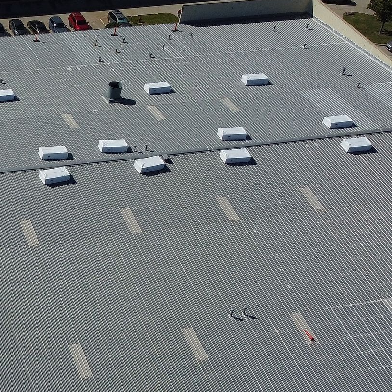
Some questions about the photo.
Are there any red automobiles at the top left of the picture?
Yes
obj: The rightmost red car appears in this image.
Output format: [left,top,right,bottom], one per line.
[65,10,88,32]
